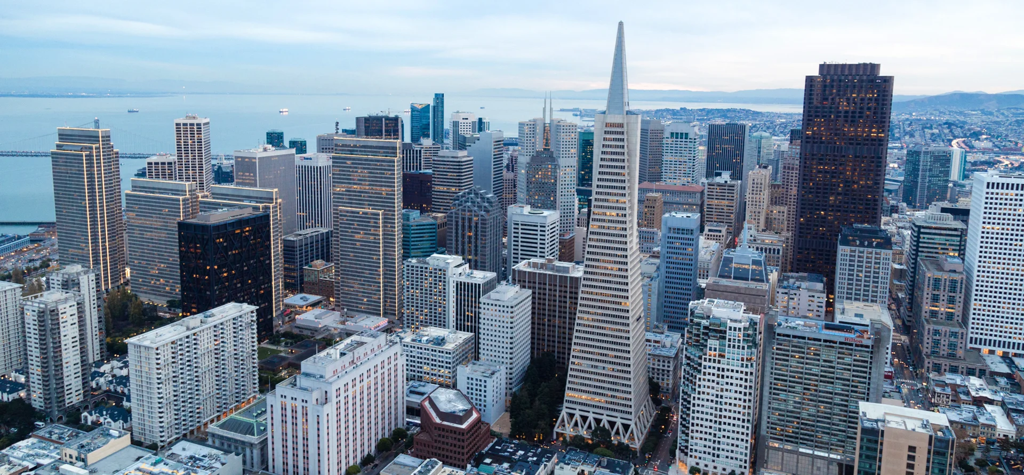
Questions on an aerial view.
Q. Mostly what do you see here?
buildings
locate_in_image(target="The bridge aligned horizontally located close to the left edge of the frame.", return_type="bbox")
[0,117,247,162]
